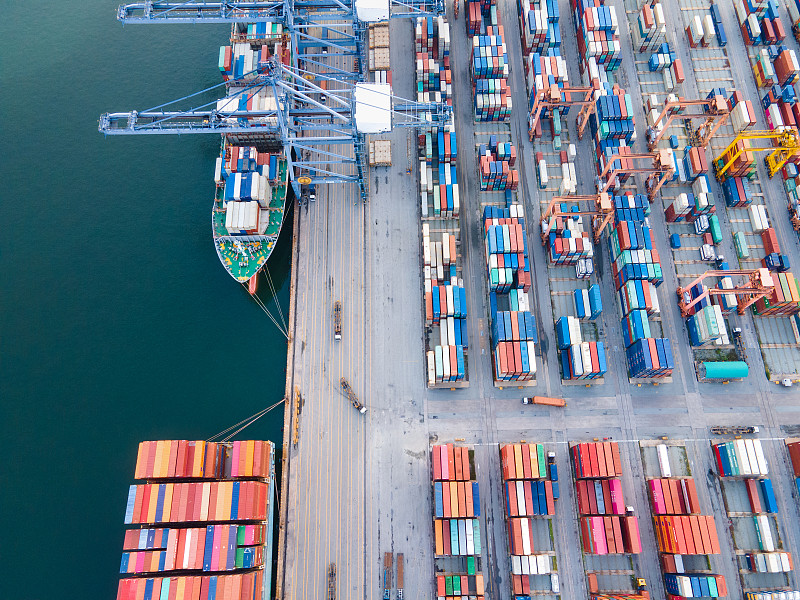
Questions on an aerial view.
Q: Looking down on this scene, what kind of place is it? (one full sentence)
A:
The area seen from above is a port.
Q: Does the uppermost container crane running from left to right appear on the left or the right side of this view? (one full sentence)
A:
It is on the left.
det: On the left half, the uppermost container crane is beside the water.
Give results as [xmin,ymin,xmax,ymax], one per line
[116,0,437,102]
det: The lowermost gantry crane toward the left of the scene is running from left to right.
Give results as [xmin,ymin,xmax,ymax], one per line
[96,62,442,205]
